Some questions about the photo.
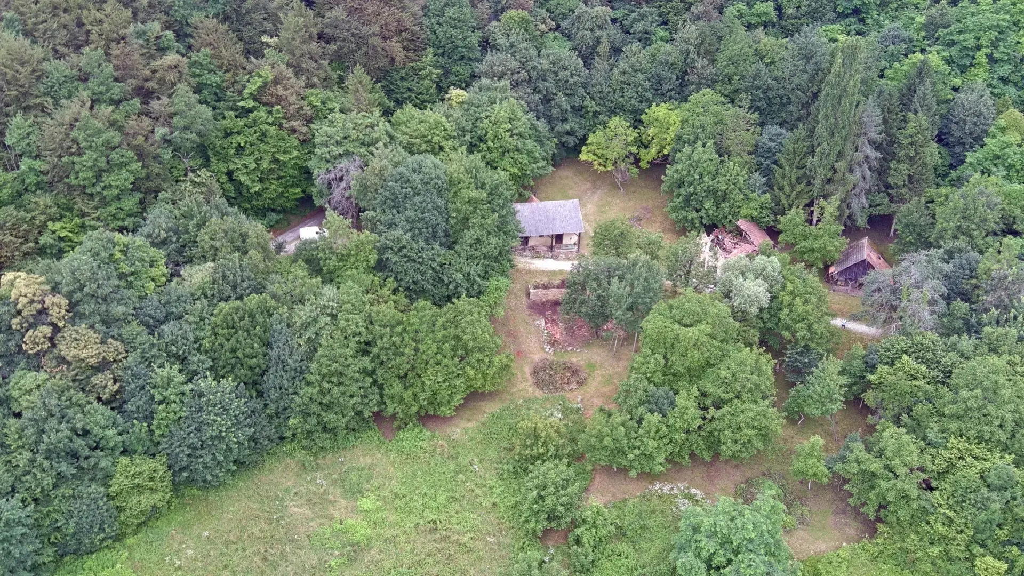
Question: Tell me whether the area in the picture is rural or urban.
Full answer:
The land in this view is best described as rural.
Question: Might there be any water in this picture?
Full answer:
No, there's no water in this view.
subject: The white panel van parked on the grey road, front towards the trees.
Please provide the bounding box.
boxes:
[295,225,328,244]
